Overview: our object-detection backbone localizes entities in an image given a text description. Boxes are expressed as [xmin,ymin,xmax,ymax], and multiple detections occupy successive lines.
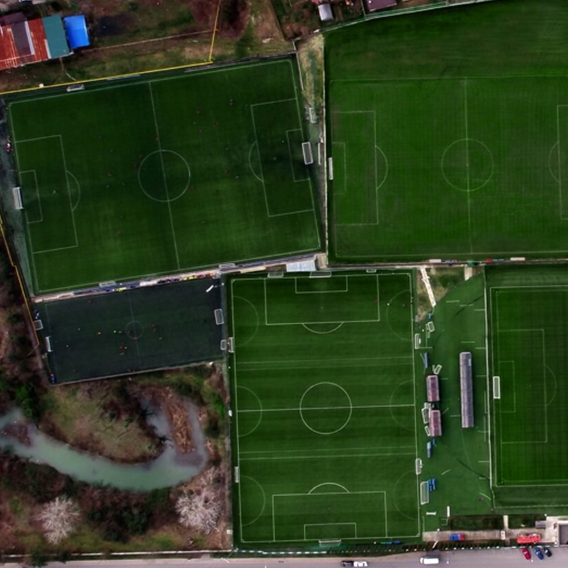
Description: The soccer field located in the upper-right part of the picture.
[324,0,568,264]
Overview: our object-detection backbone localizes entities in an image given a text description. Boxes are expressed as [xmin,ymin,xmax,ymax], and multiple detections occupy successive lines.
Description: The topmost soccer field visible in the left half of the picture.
[2,53,322,297]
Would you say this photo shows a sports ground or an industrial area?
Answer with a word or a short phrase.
sports ground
